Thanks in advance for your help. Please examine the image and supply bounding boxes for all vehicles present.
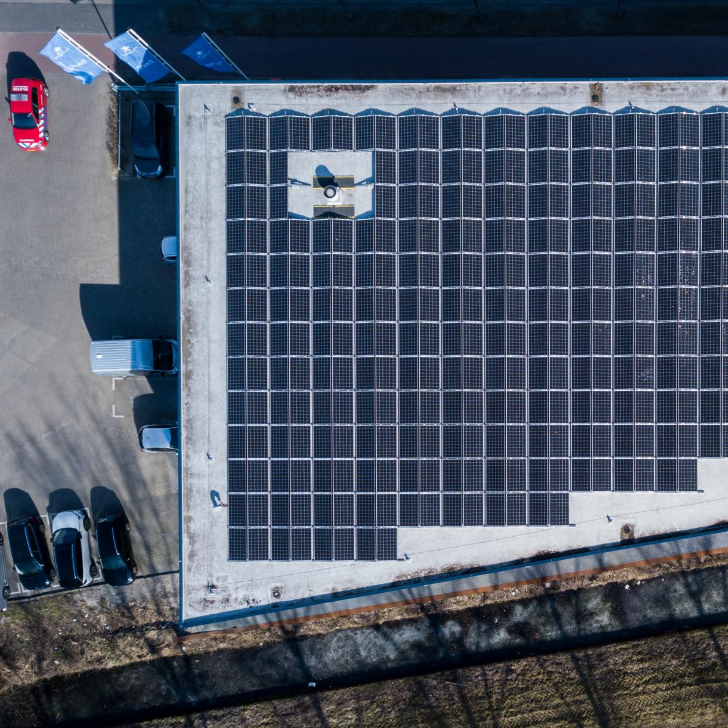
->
[48,510,98,588]
[0,539,11,608]
[4,513,56,593]
[92,512,141,588]
[2,76,49,151]
[143,425,179,453]
[164,234,178,266]
[93,338,179,376]
[129,103,172,180]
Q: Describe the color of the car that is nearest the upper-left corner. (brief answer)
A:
red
